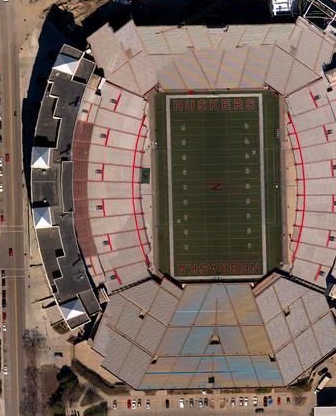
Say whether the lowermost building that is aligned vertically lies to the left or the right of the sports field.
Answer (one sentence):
Compared with the sports field, the lowermost building that is aligned vertically is located further to the left.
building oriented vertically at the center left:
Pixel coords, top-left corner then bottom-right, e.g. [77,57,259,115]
[29,44,104,330]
